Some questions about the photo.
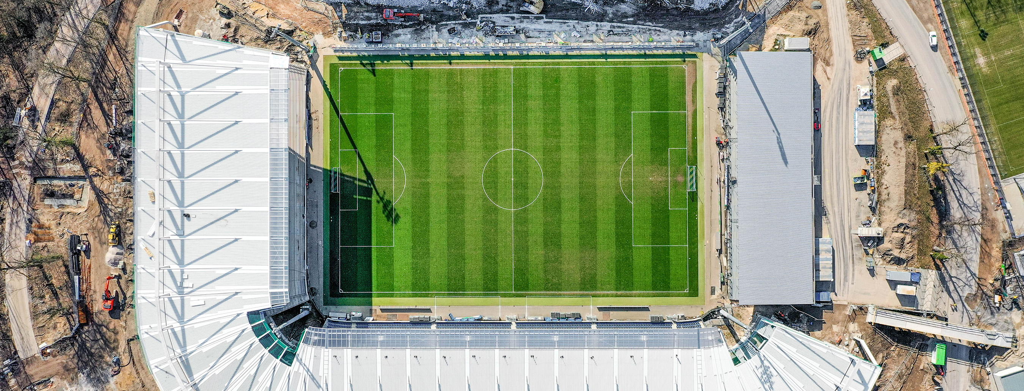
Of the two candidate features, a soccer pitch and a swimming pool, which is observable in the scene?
soccer pitch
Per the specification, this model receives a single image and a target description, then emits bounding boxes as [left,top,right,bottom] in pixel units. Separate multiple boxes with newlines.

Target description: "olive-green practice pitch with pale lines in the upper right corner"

[944,0,1024,179]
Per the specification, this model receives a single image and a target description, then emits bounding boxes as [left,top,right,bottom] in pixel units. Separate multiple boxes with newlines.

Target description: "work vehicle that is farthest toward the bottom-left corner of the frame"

[96,277,118,315]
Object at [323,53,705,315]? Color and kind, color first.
green soccer field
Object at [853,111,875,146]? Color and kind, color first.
white tent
